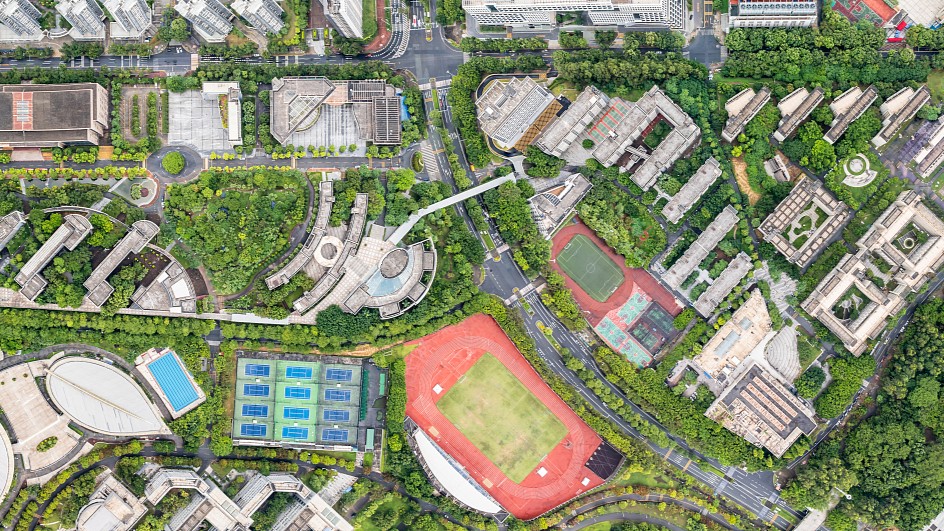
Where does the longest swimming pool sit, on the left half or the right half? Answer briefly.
left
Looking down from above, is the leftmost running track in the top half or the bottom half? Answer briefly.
bottom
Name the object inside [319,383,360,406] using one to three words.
tennis court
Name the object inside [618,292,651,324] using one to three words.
basketball court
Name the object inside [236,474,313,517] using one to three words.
building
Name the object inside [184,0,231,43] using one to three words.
building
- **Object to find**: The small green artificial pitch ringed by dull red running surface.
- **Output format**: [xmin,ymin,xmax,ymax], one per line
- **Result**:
[551,219,683,327]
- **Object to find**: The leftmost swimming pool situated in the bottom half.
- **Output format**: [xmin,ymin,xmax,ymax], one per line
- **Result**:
[136,348,204,419]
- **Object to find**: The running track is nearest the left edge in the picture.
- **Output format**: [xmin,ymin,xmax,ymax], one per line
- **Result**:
[404,313,626,520]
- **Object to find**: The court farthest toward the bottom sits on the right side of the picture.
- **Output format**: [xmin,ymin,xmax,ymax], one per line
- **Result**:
[584,442,625,483]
